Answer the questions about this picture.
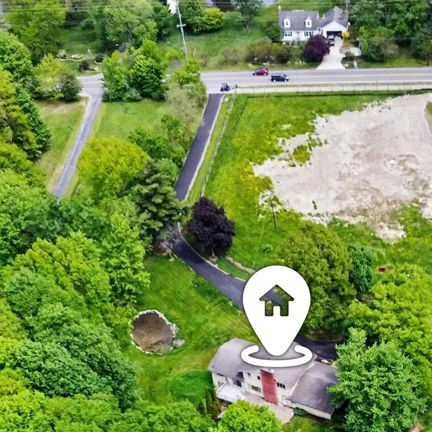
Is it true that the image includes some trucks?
No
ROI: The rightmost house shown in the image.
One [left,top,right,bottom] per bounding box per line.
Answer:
[279,6,351,40]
